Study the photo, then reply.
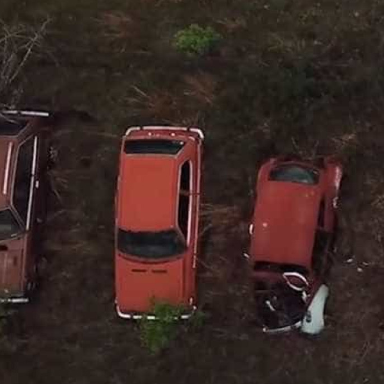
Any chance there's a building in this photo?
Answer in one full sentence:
No, I can see no building in this picture.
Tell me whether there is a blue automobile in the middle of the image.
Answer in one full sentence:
No, no blue automobile can be made out in the middle of the image.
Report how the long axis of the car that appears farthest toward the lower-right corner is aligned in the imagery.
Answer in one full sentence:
Seen from above, the car that appears farthest toward the lower-right corner lies vertically.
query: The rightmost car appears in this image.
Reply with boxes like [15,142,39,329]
[246,153,339,345]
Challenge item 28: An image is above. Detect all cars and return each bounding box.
[246,153,339,345]
[113,122,207,322]
[0,109,54,308]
